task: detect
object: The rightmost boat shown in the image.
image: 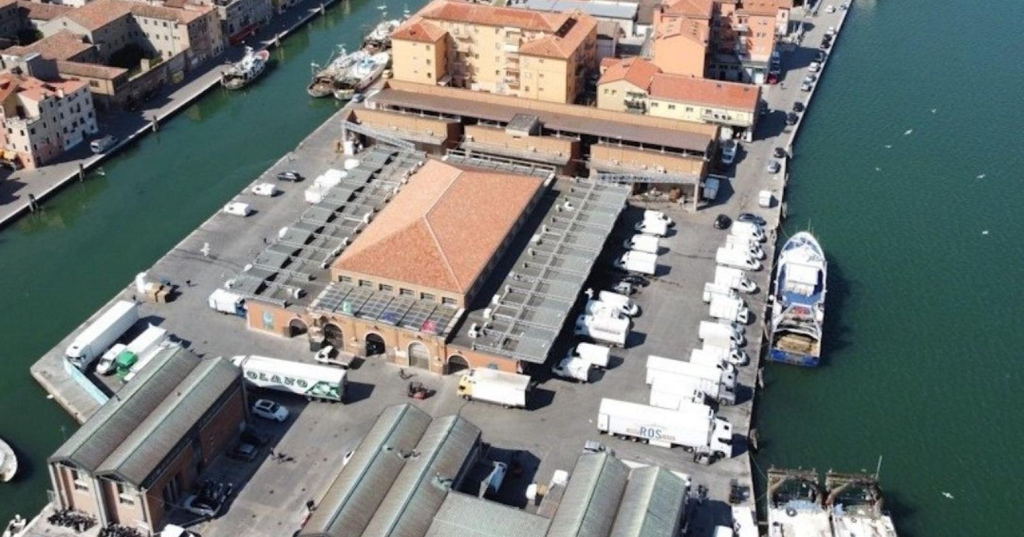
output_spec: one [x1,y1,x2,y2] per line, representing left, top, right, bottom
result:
[821,444,885,537]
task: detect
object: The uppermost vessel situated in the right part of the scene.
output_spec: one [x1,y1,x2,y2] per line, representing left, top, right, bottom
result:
[769,230,823,372]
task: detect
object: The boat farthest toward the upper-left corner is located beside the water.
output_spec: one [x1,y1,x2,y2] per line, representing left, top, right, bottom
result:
[229,39,274,95]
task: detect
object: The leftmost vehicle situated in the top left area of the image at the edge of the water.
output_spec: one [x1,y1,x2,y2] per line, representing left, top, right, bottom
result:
[90,130,121,153]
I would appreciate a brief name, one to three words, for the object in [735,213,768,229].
car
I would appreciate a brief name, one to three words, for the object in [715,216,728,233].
vehicle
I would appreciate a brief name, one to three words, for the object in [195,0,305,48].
building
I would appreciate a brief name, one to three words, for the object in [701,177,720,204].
vehicle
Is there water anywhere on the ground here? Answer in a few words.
Yes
